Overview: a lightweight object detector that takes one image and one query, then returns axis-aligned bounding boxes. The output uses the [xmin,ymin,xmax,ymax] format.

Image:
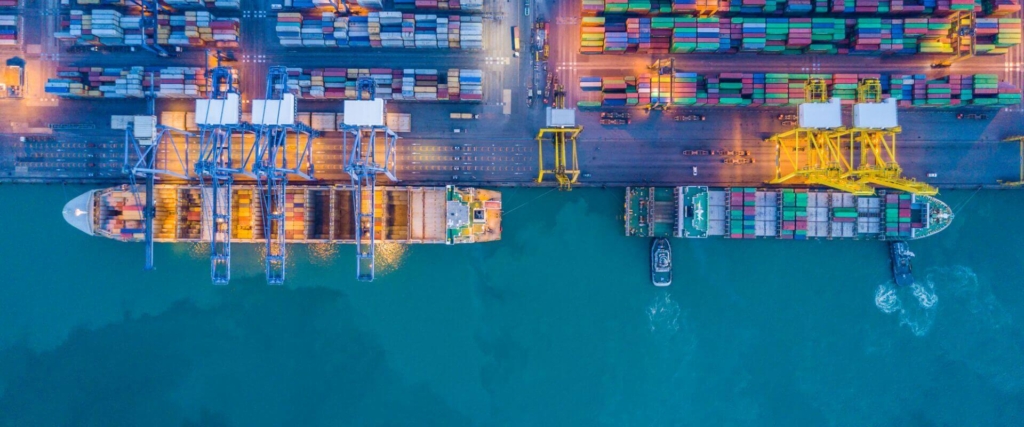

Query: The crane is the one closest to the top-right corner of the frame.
[936,9,974,67]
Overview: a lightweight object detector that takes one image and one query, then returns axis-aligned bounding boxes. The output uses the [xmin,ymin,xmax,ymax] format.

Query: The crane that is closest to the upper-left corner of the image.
[140,3,175,66]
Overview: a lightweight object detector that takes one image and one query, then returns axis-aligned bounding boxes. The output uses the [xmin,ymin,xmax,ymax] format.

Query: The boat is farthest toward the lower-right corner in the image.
[892,241,917,287]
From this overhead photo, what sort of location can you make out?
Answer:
port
